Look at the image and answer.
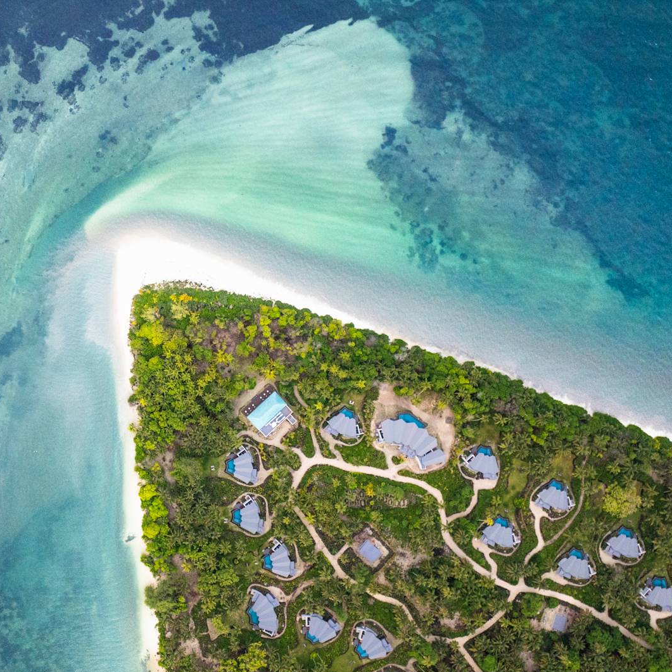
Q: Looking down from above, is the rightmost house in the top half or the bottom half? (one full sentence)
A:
The rightmost house is in the bottom half of the image.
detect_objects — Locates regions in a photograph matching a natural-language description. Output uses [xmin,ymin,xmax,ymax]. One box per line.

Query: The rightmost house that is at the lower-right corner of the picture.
[639,575,672,610]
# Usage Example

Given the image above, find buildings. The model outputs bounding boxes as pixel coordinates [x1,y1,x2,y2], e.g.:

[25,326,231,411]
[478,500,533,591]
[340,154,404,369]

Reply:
[260,540,294,578]
[224,445,258,483]
[376,411,446,469]
[230,496,265,534]
[247,589,284,636]
[481,514,522,547]
[299,613,340,646]
[350,628,391,660]
[241,386,297,437]
[604,525,647,558]
[535,476,576,511]
[552,614,569,632]
[639,575,672,610]
[360,540,381,560]
[554,545,596,578]
[463,443,500,478]
[327,404,367,437]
